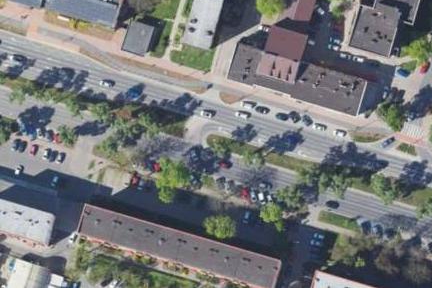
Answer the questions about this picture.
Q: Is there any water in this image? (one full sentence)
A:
No, water can't be seen anywhere here.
